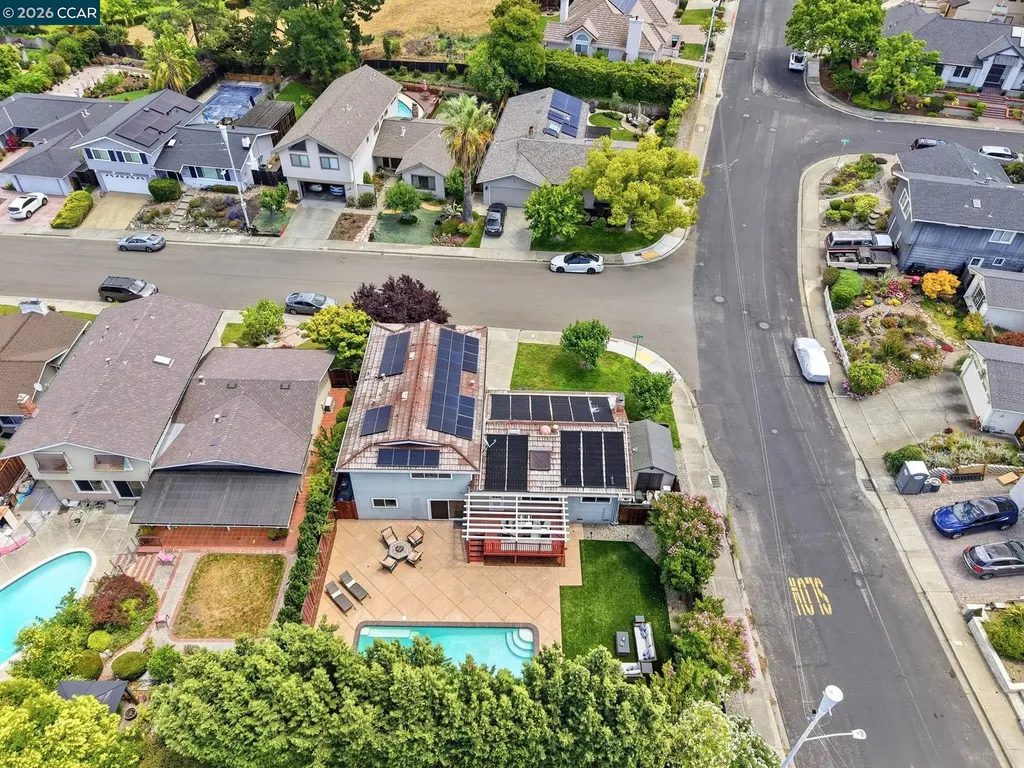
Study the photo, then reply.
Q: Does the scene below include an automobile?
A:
Yes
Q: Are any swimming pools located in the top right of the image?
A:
No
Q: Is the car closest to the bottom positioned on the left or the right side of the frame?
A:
right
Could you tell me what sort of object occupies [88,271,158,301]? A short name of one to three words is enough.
car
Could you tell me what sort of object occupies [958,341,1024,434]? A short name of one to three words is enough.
building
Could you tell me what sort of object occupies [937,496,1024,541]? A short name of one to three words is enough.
car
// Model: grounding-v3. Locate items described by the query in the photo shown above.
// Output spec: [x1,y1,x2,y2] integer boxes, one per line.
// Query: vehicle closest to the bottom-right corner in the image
[966,539,1024,585]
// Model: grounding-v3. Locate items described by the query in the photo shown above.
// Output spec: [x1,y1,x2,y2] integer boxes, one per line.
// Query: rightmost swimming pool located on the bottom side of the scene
[358,628,532,695]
